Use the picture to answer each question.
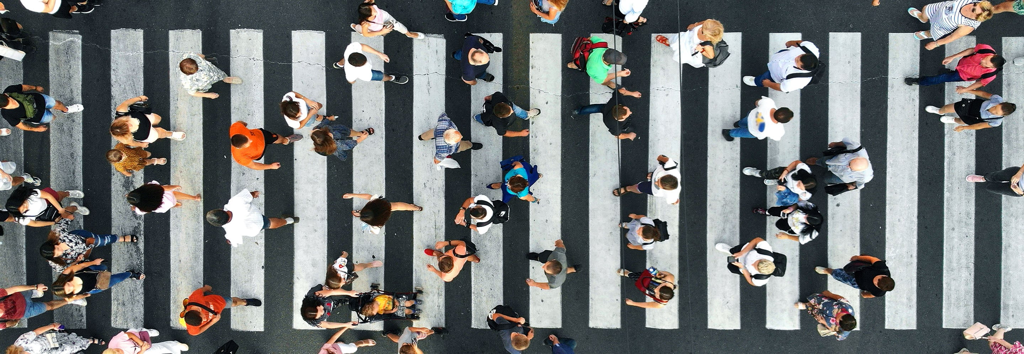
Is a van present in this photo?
No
